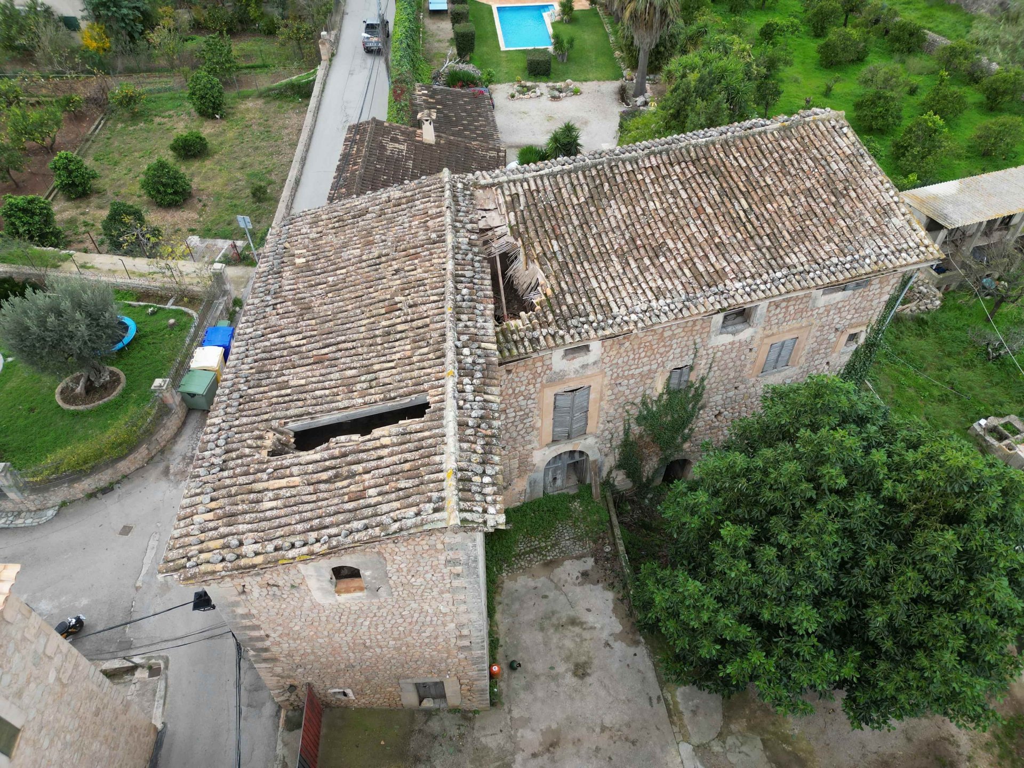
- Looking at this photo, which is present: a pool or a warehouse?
pool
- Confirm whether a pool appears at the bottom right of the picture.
No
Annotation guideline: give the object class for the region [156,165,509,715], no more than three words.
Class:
house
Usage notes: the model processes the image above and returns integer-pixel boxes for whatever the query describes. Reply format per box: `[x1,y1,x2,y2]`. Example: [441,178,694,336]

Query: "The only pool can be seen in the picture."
[492,4,556,50]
